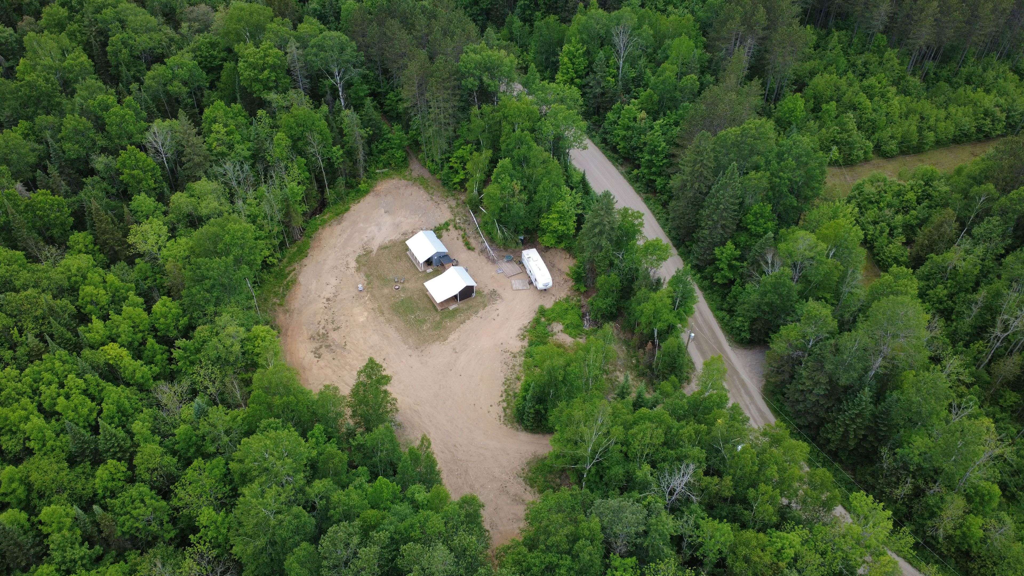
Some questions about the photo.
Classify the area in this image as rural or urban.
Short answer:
rural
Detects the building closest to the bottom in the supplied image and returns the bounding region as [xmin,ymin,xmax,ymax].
[423,266,477,310]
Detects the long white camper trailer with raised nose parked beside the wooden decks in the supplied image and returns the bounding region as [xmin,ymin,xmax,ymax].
[522,249,553,293]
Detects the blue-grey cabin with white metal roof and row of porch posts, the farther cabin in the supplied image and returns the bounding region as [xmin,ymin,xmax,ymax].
[405,230,448,271]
